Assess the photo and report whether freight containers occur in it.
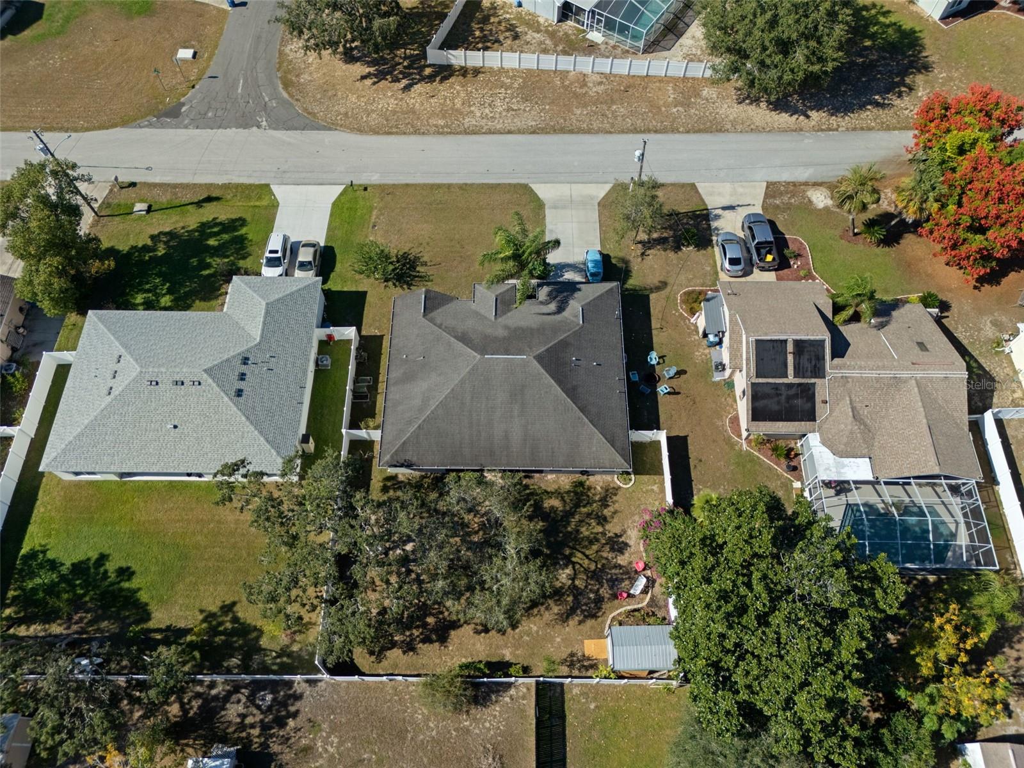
No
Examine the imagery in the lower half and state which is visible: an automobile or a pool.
pool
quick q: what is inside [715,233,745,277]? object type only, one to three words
car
